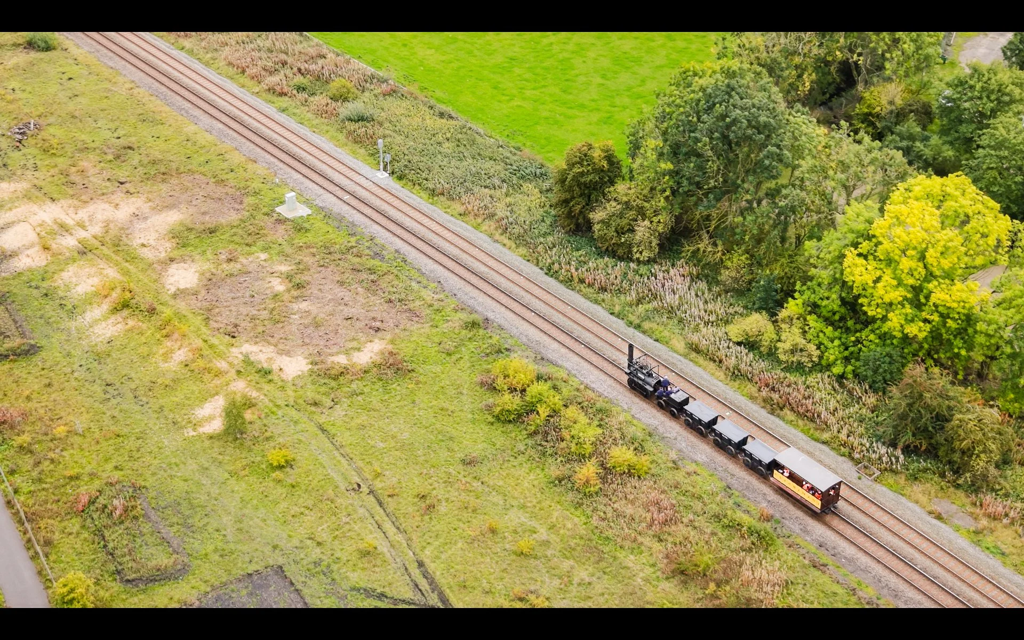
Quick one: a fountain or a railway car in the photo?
railway car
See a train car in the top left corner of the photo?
No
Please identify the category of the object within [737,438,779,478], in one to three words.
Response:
rail car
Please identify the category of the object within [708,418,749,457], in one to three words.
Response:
rail car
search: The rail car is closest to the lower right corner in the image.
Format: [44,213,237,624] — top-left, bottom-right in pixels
[769,447,842,515]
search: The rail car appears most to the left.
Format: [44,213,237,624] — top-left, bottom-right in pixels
[620,344,665,401]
